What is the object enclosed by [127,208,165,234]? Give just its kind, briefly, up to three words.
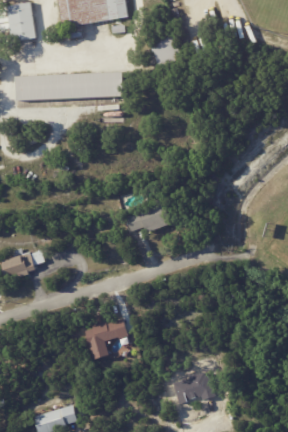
house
